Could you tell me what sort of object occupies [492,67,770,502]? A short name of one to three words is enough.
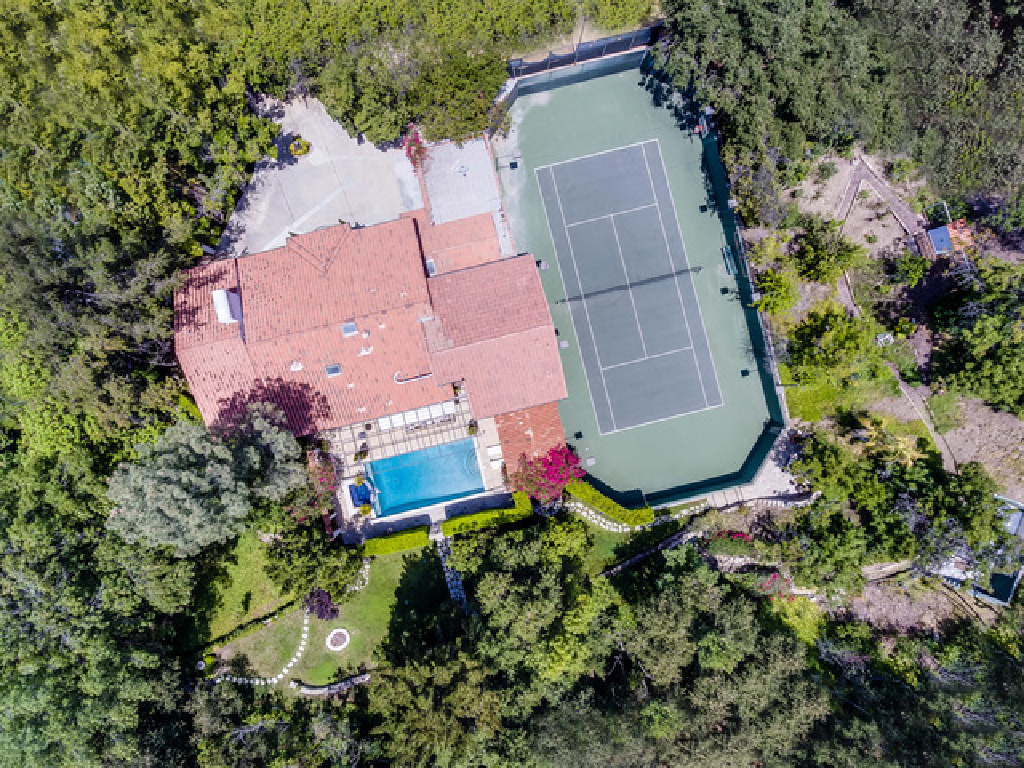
tennis court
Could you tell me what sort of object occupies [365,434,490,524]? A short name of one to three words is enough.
swimming pool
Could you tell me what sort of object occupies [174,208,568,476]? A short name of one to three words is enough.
house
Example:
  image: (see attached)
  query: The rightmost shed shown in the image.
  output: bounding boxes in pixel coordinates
[992,505,1024,541]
